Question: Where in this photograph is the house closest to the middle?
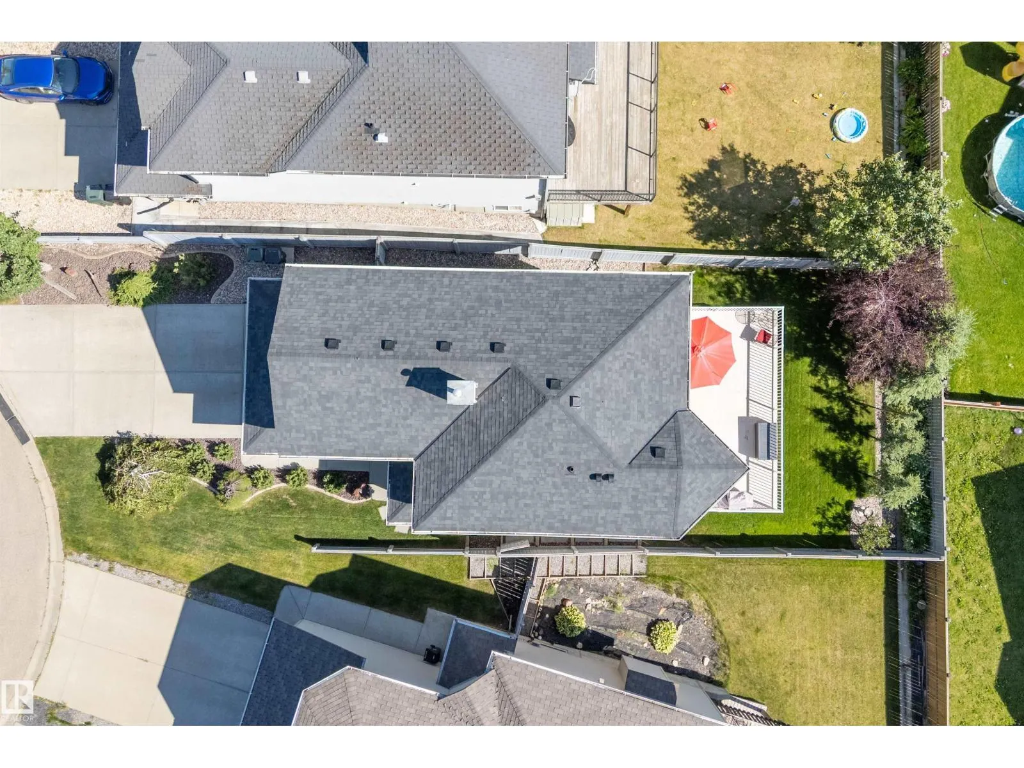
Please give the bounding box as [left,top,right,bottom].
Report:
[239,261,752,541]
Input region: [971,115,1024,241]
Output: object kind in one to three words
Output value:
swimming pool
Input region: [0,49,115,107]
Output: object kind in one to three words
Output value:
car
